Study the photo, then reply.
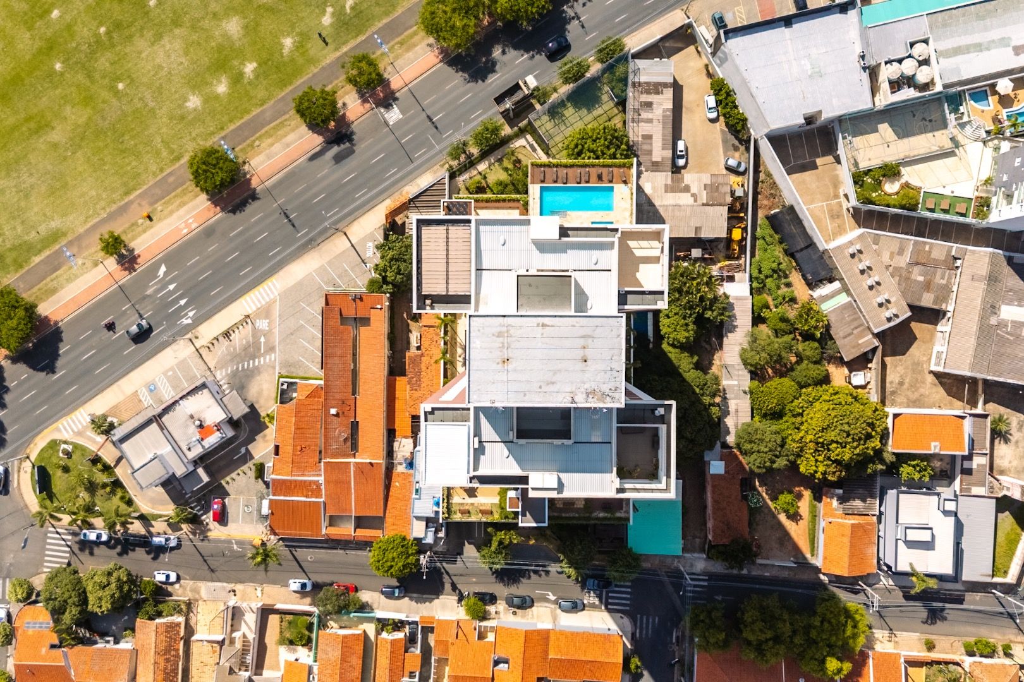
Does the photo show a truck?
Yes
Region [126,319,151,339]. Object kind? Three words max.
car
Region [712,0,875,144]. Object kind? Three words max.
warehouse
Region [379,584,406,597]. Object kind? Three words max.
vehicle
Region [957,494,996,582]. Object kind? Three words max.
house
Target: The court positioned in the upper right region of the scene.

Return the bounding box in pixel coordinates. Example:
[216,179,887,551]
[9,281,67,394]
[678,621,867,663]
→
[840,95,956,172]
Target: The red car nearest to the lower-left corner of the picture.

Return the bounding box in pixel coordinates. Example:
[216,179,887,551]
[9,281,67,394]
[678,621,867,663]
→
[211,498,225,523]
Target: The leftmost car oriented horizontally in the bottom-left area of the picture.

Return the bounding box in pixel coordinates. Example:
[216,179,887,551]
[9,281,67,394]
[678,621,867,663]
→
[81,529,110,541]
